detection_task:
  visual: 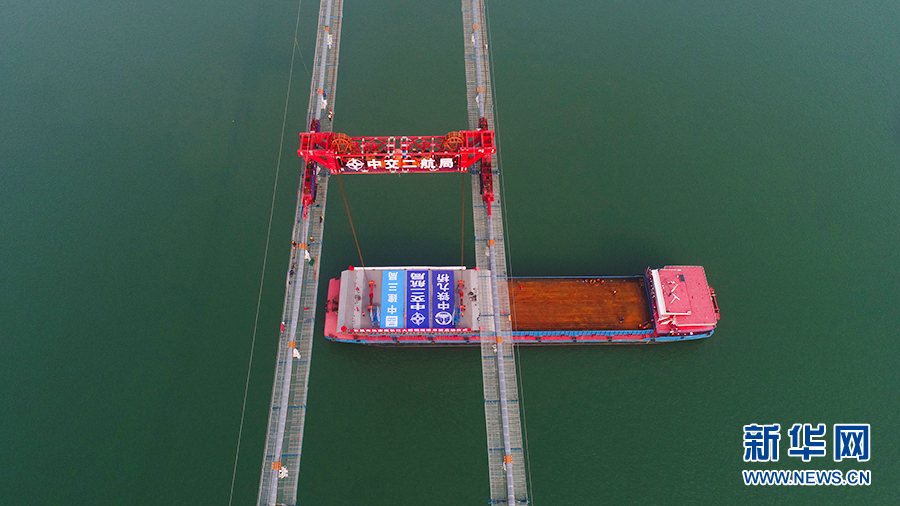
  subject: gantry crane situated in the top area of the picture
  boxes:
[297,117,496,221]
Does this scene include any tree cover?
No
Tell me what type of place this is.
port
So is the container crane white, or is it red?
red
